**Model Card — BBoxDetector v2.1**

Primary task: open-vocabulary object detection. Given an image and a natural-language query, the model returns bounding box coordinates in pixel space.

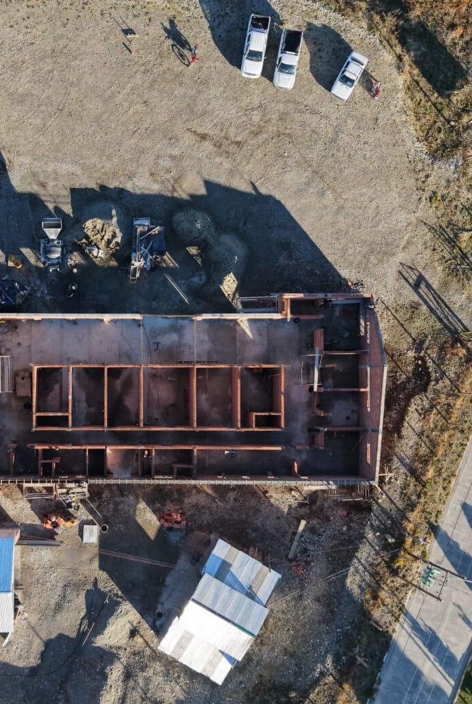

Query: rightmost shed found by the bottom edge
[159,536,280,685]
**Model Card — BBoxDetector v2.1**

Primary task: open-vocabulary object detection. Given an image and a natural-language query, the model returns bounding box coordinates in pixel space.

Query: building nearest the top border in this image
[0,295,388,486]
